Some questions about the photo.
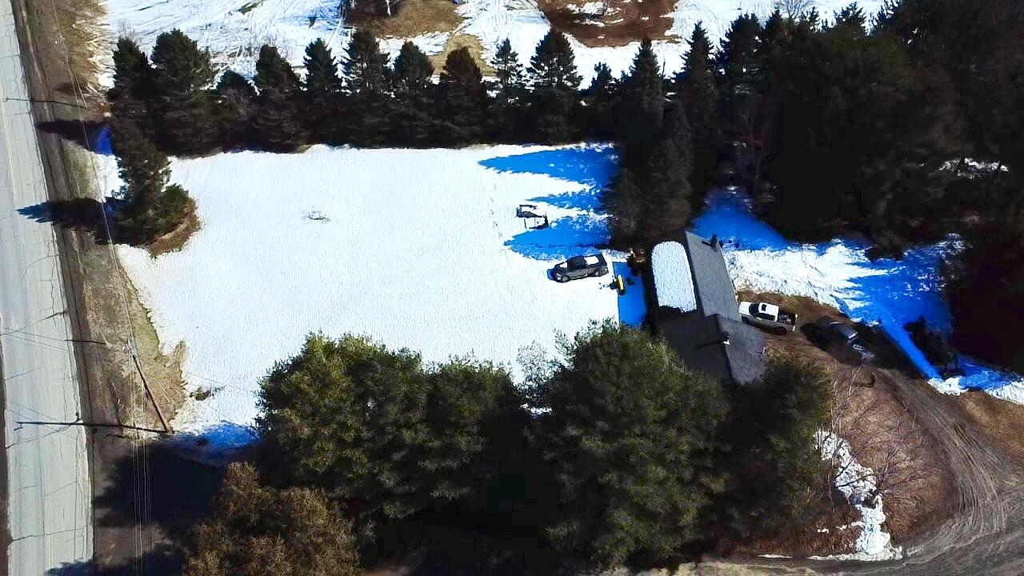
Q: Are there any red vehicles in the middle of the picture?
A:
No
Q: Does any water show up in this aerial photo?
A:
No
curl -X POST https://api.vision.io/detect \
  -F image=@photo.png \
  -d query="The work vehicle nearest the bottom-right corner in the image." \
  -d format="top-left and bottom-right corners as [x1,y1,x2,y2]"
[901,306,960,353]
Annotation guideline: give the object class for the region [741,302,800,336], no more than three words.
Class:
truck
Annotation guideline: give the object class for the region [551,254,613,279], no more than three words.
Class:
truck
